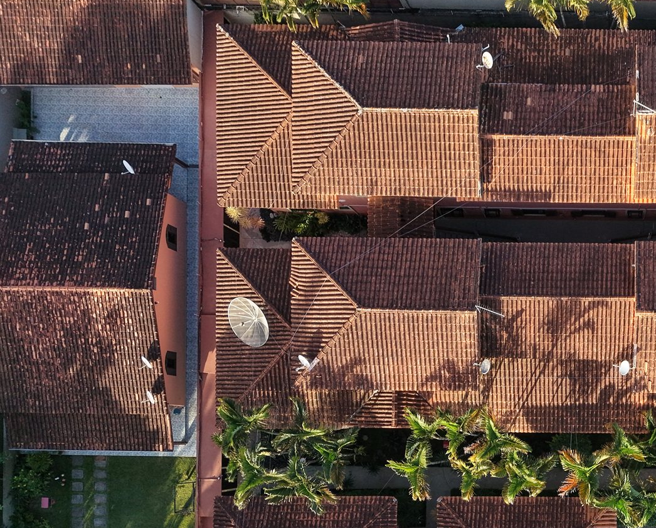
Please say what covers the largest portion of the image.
buildings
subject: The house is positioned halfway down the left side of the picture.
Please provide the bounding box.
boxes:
[0,142,203,453]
